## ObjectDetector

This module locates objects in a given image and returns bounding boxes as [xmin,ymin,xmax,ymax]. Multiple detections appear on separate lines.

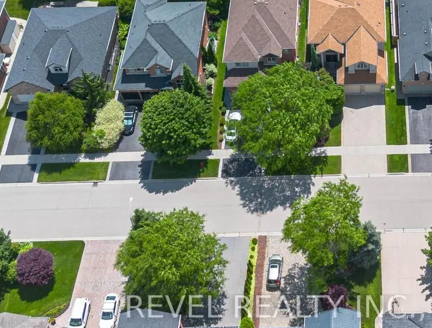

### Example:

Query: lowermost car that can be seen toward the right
[266,253,284,292]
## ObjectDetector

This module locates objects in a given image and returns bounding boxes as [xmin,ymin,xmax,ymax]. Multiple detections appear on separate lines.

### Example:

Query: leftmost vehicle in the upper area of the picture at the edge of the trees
[122,106,139,138]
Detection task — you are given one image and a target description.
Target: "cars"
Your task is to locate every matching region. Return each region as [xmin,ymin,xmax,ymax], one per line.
[122,106,139,138]
[266,253,284,292]
[225,113,241,142]
[66,290,91,328]
[98,292,121,328]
